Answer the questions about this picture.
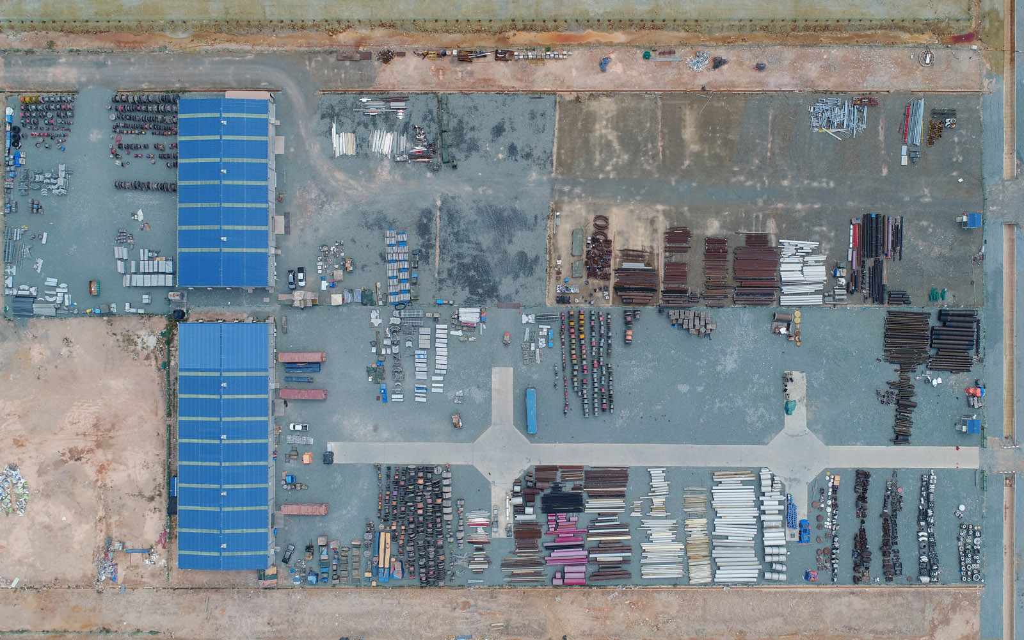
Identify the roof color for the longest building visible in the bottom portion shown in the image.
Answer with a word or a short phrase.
blue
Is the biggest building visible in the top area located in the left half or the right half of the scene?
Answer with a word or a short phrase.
left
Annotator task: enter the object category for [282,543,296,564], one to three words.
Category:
vehicle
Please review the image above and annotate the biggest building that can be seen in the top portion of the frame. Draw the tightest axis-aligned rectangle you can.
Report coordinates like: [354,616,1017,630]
[177,97,275,288]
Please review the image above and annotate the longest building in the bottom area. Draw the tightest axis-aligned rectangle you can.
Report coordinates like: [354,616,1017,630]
[177,322,275,572]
